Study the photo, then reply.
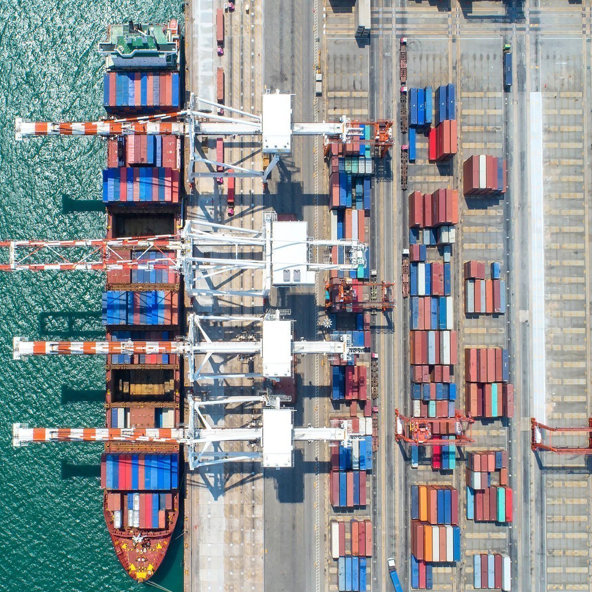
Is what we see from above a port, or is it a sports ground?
port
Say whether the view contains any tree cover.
No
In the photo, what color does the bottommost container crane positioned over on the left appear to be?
white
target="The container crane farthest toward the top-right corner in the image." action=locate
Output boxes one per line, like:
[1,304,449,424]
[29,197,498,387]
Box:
[323,120,395,162]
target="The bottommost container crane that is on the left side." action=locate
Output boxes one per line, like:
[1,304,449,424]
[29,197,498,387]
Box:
[11,384,366,472]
